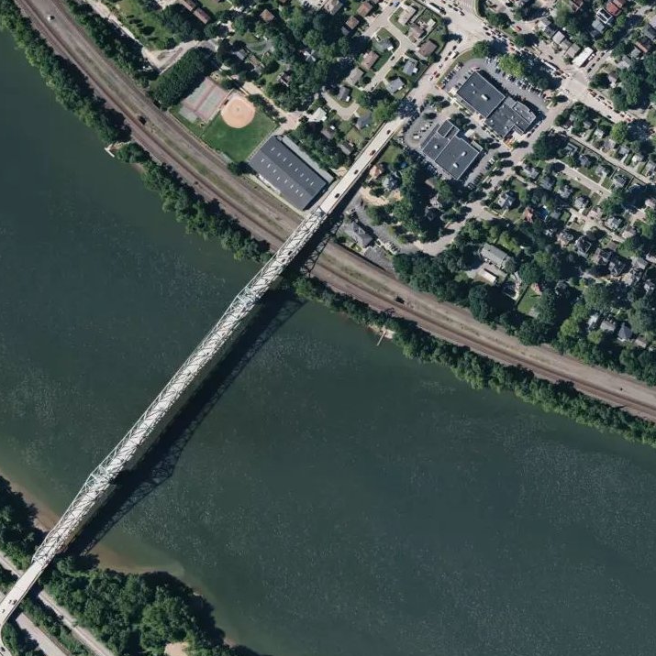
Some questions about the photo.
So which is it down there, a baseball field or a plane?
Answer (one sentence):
Looking from above, you can make out a baseball field.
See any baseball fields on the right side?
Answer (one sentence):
No, I can find no baseball field on the right side.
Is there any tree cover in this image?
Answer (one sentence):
Yes, the picture does contain tree cover.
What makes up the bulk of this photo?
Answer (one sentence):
Most of the picture is covered by water.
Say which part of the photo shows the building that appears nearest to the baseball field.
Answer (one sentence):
The building that appears nearest to the baseball field sits in the top section of the image.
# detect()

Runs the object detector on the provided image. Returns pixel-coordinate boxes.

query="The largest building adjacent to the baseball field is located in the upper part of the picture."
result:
[249,136,336,211]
